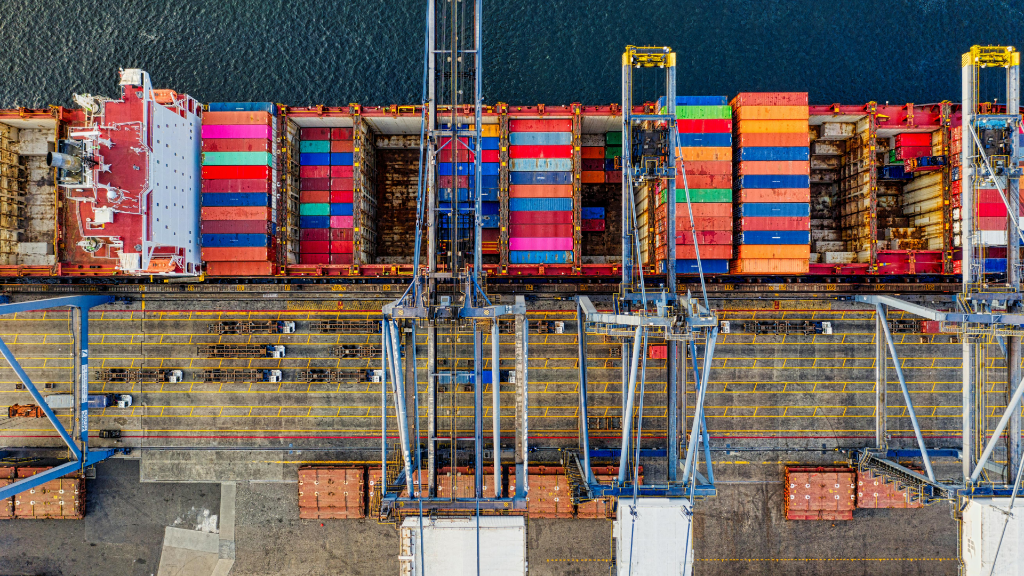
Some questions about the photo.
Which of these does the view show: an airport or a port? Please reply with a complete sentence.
It's a port.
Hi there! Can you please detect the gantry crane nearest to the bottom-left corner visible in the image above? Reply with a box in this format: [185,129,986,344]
[0,295,134,501]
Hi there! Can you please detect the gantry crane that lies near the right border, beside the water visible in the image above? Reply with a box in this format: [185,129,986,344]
[826,41,1024,576]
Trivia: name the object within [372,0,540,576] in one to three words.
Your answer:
container crane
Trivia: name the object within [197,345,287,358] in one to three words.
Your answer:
vehicle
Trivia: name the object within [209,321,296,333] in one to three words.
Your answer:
vehicle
